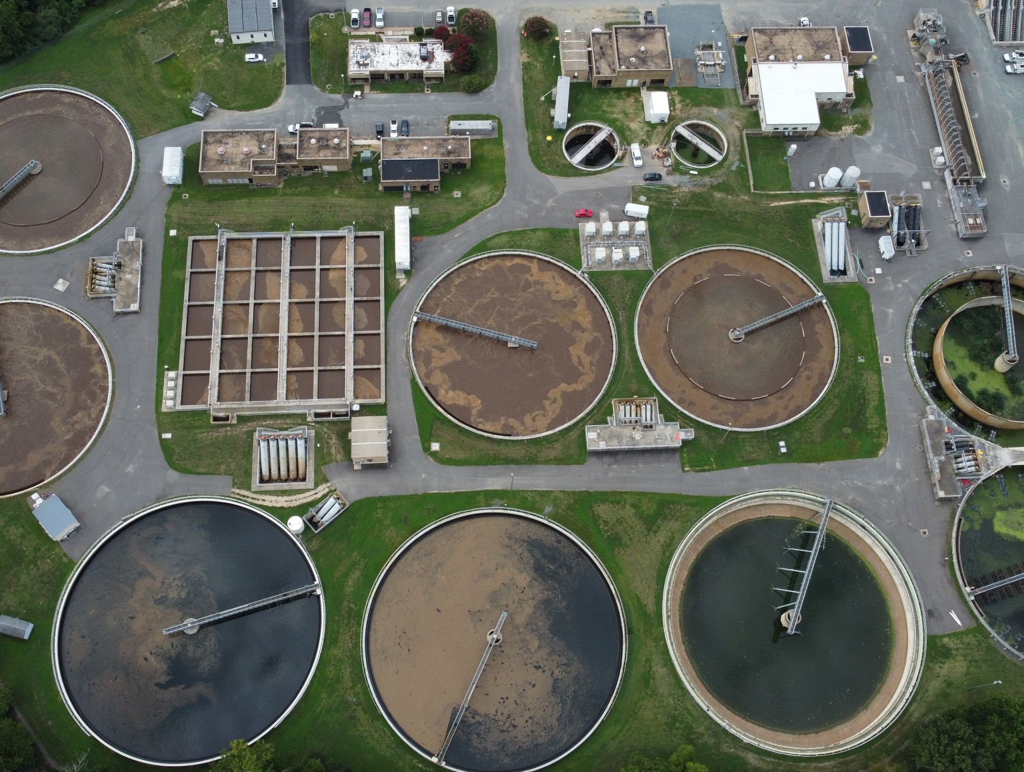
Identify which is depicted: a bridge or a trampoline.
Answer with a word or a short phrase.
bridge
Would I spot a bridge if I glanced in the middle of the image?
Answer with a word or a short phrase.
Yes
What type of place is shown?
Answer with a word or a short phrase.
industrial area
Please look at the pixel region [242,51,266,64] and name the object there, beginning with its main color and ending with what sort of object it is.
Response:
white vehicle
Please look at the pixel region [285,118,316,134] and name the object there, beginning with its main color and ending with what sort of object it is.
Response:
white vehicle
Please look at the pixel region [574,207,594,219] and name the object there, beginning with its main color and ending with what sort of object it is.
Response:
red vehicle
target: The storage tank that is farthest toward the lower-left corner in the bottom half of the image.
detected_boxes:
[50,494,325,765]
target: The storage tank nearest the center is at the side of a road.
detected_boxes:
[409,247,617,439]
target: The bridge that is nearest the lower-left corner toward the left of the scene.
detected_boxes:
[162,584,322,635]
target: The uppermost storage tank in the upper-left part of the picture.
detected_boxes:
[0,83,137,255]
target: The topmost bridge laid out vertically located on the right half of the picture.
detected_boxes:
[998,264,1021,366]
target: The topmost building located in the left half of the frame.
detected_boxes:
[230,0,282,44]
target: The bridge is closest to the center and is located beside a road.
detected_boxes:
[413,309,539,349]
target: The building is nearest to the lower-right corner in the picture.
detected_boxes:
[914,404,1024,500]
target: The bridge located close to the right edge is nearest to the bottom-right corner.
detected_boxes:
[963,568,1024,598]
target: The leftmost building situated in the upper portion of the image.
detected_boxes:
[84,228,152,315]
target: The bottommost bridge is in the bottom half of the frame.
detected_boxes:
[437,611,507,762]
